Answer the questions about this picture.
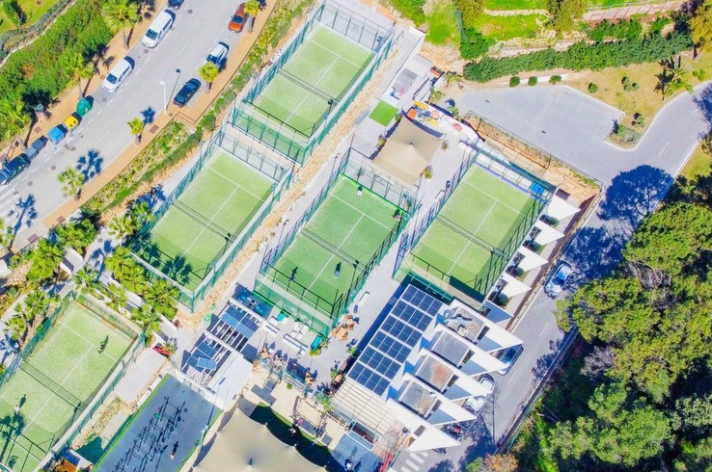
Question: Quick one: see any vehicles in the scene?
Yes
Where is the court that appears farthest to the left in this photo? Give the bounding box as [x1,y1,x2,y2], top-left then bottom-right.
[0,286,149,472]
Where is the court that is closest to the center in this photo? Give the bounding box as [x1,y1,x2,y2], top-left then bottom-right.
[250,155,423,338]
